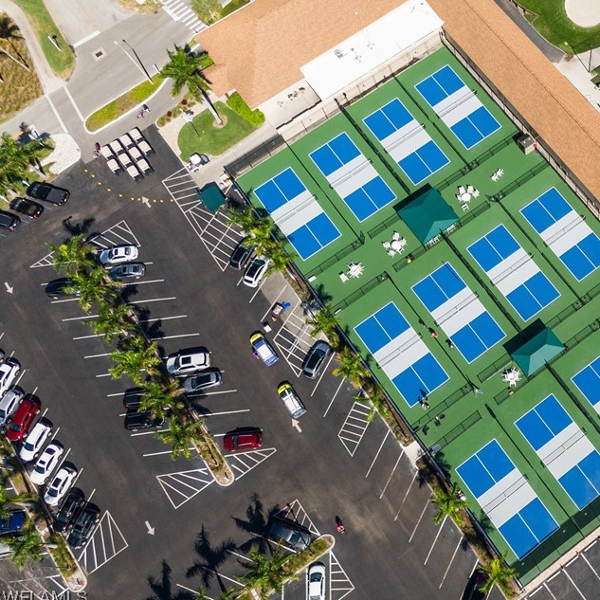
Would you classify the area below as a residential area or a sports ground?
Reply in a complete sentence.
The picture captures a sports ground.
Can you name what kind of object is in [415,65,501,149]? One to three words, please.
sports court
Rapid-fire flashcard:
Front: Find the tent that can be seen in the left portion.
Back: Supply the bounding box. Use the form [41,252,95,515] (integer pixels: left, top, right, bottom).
[200,182,234,216]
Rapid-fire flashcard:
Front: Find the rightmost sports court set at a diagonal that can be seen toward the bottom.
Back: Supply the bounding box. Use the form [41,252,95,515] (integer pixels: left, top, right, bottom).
[515,394,600,510]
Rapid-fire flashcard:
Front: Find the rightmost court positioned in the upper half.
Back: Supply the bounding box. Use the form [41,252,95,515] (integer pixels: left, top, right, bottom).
[520,186,600,281]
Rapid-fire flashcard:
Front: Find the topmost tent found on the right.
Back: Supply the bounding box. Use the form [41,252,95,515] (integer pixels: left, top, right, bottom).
[399,187,462,250]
